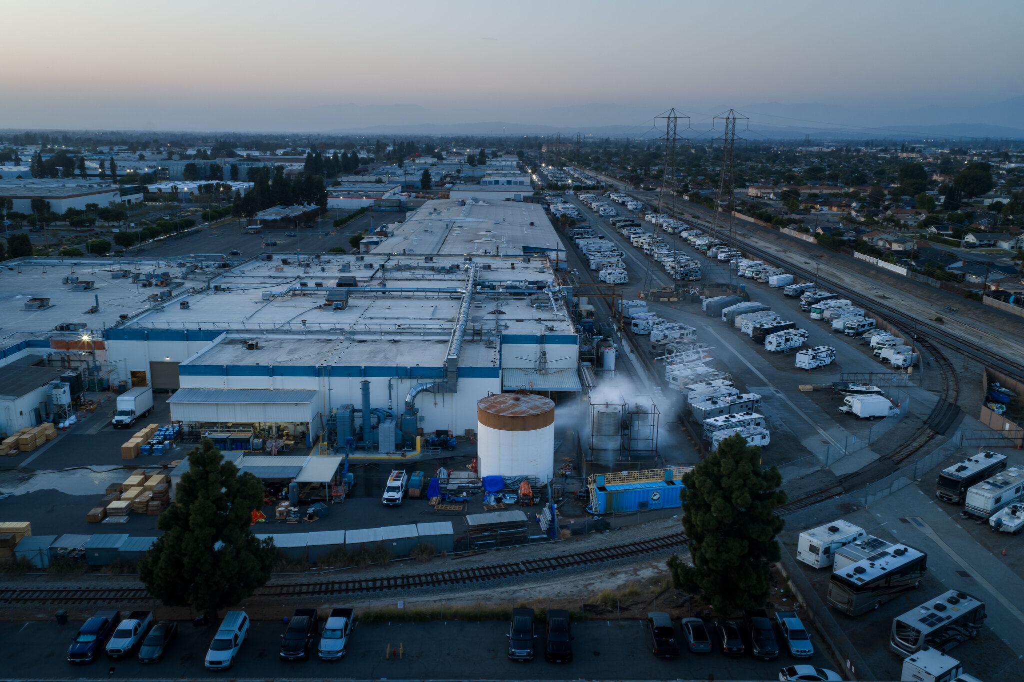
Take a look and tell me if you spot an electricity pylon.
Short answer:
Yes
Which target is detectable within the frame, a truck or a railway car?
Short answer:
truck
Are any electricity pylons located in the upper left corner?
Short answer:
No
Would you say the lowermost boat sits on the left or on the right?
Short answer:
right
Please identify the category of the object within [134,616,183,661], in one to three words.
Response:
car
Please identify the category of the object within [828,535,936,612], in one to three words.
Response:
camper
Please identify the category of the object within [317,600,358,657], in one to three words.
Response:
truck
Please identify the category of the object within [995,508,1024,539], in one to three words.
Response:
boat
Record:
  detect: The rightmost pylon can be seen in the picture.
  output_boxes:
[701,109,759,296]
